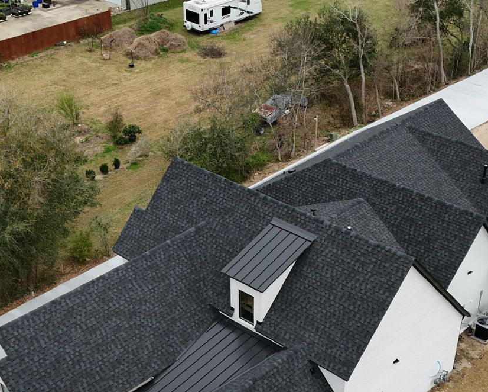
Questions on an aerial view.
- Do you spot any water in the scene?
No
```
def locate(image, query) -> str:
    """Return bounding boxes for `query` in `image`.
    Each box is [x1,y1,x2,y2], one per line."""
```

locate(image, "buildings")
[0,99,488,392]
[99,0,165,11]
